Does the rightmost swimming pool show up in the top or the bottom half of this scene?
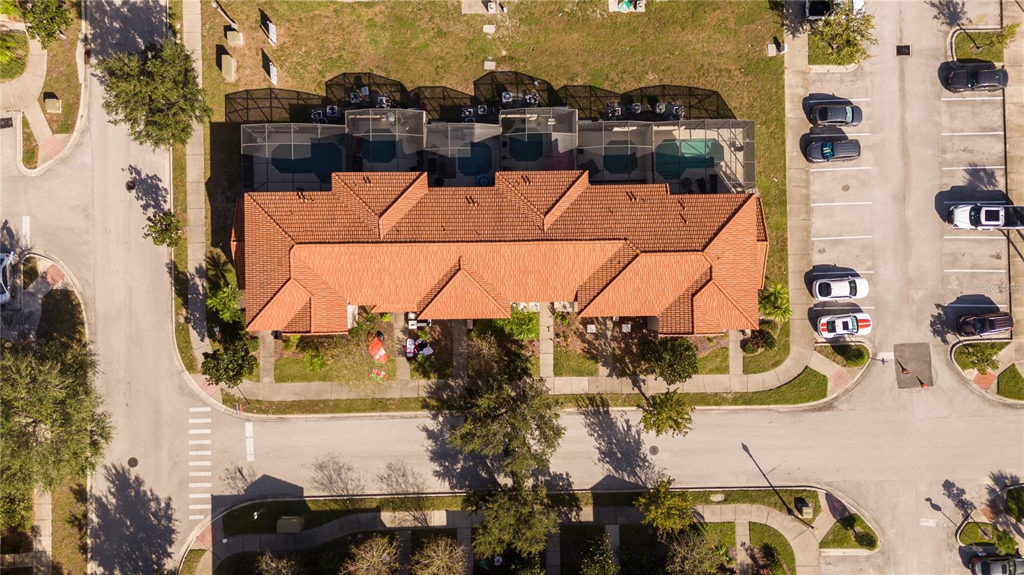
top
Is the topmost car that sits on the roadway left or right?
right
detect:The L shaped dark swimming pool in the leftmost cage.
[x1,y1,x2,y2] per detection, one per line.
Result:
[270,143,342,185]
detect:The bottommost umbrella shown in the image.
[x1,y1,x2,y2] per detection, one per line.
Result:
[472,170,493,187]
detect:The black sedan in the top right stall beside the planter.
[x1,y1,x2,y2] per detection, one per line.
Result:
[945,67,1005,94]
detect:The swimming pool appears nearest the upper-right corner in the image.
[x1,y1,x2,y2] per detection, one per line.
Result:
[654,138,725,180]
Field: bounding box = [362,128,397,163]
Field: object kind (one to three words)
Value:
swimming pool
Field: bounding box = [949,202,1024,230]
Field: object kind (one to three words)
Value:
truck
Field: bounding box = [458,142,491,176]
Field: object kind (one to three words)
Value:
swimming pool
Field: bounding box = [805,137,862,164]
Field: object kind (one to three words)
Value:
car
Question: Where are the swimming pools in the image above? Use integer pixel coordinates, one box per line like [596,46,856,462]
[458,142,491,176]
[654,138,725,180]
[362,128,397,163]
[604,140,638,174]
[270,143,342,185]
[509,127,543,162]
